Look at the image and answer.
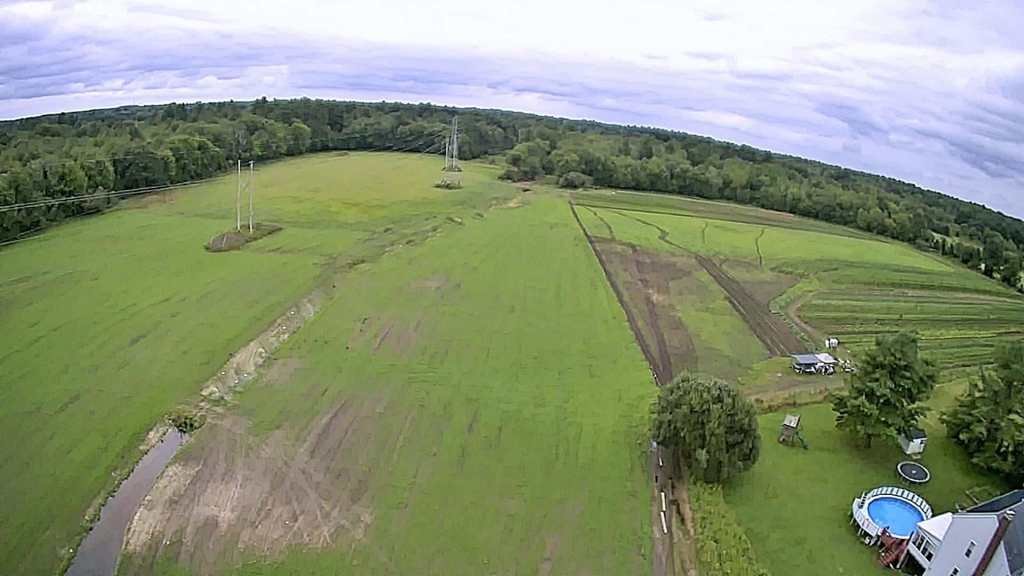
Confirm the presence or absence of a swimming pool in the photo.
Yes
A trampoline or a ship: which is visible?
trampoline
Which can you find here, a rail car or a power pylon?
power pylon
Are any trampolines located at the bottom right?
Yes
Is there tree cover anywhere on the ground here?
Yes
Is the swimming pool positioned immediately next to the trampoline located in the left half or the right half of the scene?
right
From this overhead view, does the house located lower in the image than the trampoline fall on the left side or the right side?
right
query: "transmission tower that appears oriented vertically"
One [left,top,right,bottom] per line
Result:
[440,119,466,183]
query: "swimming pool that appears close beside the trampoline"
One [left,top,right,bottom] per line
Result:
[844,484,934,549]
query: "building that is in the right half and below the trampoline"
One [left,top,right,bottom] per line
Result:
[908,485,1024,576]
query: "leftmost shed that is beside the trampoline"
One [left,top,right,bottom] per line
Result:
[900,424,930,457]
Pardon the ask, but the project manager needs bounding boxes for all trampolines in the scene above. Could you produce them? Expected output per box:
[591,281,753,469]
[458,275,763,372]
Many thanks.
[894,460,931,489]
